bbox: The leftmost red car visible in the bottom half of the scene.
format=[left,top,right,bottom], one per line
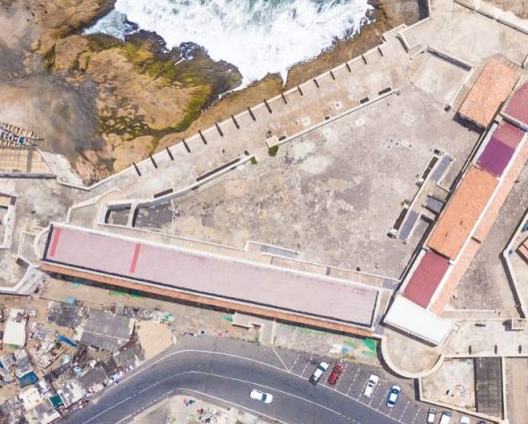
[327,363,343,386]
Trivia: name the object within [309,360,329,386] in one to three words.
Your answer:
car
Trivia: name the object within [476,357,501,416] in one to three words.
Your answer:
shed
